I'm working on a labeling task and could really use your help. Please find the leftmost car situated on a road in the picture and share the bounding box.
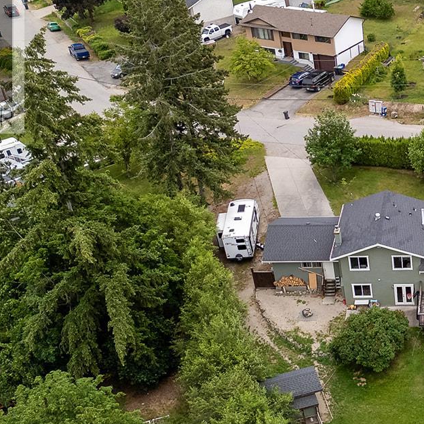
[1,3,17,16]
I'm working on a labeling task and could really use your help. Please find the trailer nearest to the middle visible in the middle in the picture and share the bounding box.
[217,201,266,260]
